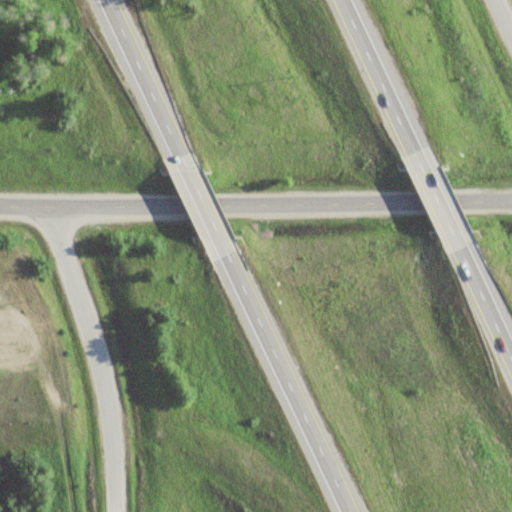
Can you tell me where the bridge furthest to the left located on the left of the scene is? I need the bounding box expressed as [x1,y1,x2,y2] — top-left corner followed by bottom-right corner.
[157,149,250,262]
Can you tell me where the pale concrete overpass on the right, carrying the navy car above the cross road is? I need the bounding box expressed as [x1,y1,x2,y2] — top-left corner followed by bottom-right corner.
[393,144,488,256]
